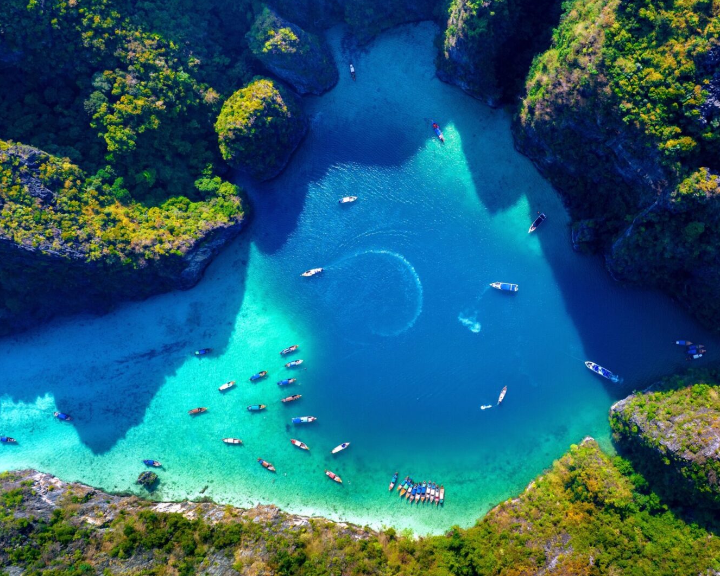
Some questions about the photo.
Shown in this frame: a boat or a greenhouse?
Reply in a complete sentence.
Of the two, only a boat appears.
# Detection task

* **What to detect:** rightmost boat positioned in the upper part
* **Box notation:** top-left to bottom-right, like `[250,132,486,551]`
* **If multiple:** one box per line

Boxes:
[529,212,547,233]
